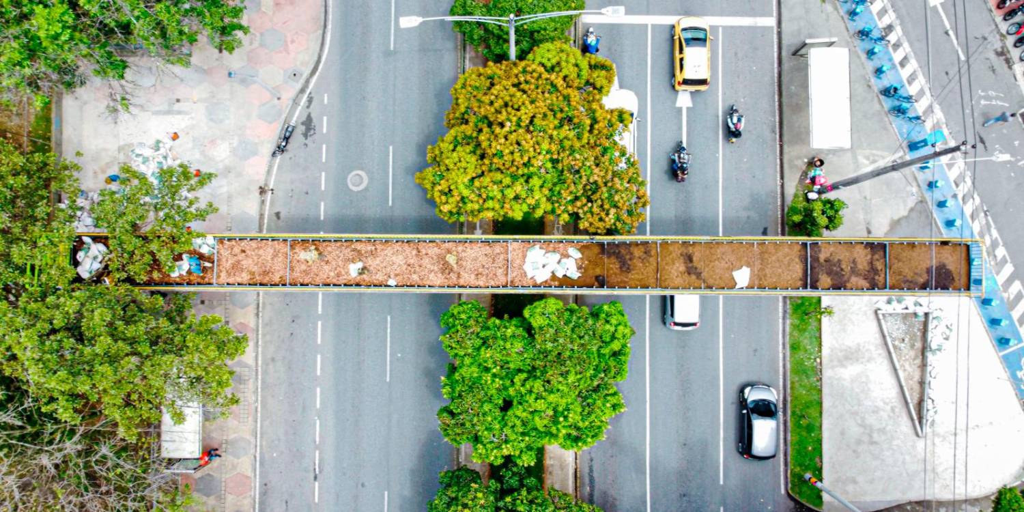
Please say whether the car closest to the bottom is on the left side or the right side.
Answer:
right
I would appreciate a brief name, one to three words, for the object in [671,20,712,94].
car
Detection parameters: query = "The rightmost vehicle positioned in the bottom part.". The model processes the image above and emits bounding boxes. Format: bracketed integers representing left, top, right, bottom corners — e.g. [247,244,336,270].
[736,381,781,460]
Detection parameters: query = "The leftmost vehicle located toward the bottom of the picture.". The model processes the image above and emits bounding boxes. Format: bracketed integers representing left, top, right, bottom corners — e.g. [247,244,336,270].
[662,295,699,331]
